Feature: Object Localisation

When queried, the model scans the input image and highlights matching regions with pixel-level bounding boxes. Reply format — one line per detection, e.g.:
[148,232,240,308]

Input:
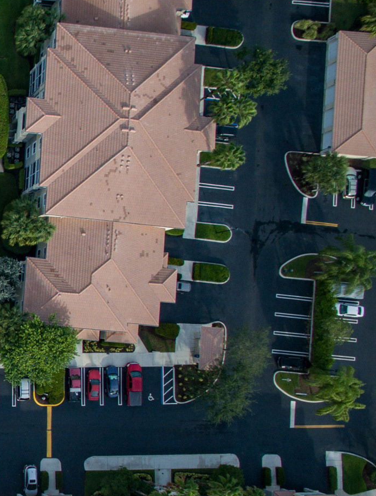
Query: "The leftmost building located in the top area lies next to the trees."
[8,0,216,345]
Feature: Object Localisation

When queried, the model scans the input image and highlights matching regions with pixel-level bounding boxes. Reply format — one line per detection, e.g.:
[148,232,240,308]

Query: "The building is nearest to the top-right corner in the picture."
[322,29,376,158]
